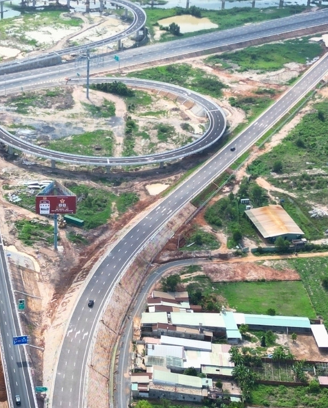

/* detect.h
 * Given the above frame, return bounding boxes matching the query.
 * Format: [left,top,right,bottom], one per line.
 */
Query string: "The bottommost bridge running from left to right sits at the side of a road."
[0,93,225,173]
